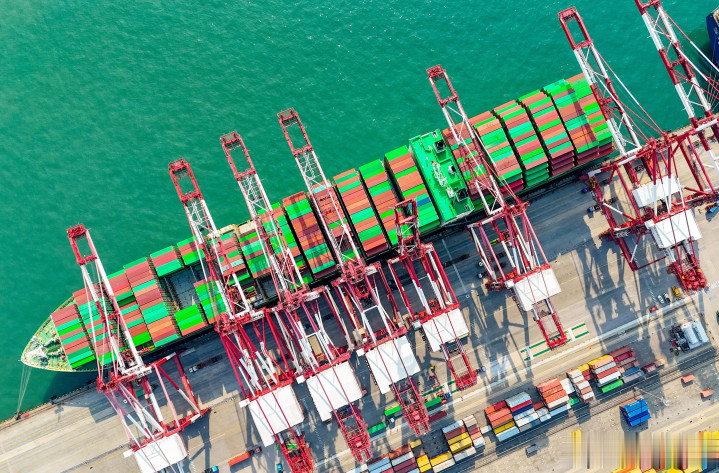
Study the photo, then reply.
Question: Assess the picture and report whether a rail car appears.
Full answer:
No, I can't see a single rail car in this photo.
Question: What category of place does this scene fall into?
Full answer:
The picture captures a port.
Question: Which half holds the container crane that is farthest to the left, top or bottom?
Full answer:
You can find the container crane that is farthest to the left in the bottom half.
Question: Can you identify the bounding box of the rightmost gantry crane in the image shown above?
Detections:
[637,0,719,246]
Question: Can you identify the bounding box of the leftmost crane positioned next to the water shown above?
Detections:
[62,220,214,473]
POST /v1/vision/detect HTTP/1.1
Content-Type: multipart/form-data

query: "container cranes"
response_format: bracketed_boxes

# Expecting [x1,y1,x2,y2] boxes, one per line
[62,220,214,473]
[426,60,569,347]
[637,0,719,246]
[276,106,434,440]
[378,196,480,389]
[219,128,377,466]
[165,154,319,473]
[558,1,708,296]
